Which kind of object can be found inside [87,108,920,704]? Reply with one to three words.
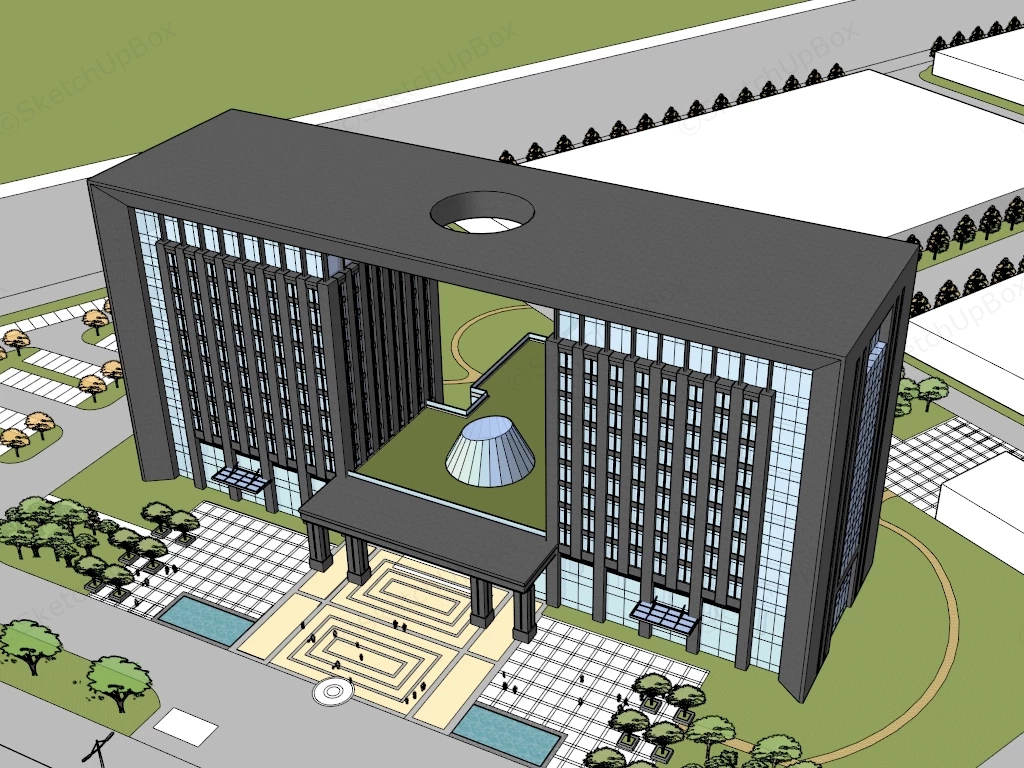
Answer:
building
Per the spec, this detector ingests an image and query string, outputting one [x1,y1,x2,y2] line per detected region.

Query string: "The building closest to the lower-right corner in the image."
[935,451,1024,574]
